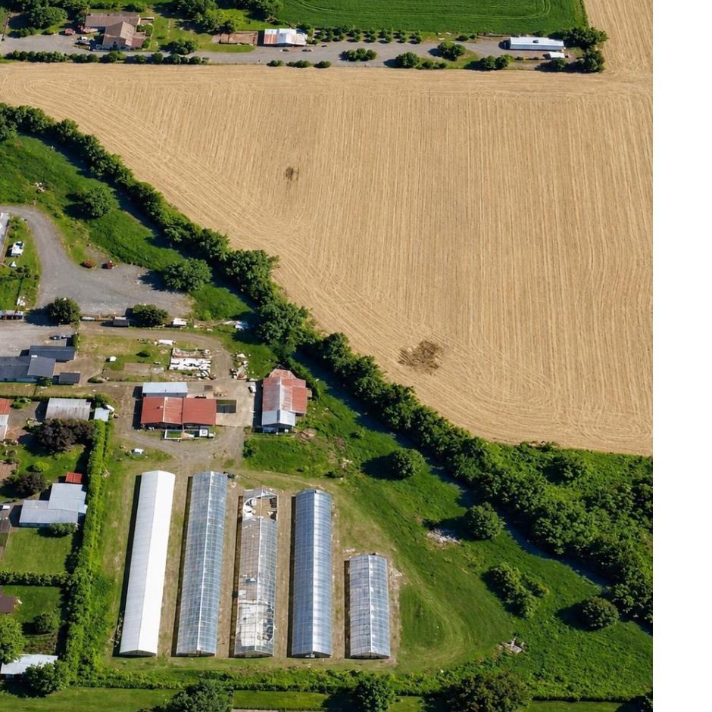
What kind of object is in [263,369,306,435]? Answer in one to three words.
barn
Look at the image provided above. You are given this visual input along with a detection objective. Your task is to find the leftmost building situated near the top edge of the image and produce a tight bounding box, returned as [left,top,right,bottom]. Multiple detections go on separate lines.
[85,11,143,54]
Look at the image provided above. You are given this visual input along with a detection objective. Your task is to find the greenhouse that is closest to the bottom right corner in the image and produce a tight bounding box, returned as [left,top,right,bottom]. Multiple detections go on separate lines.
[349,554,390,661]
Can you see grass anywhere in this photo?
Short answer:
Yes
